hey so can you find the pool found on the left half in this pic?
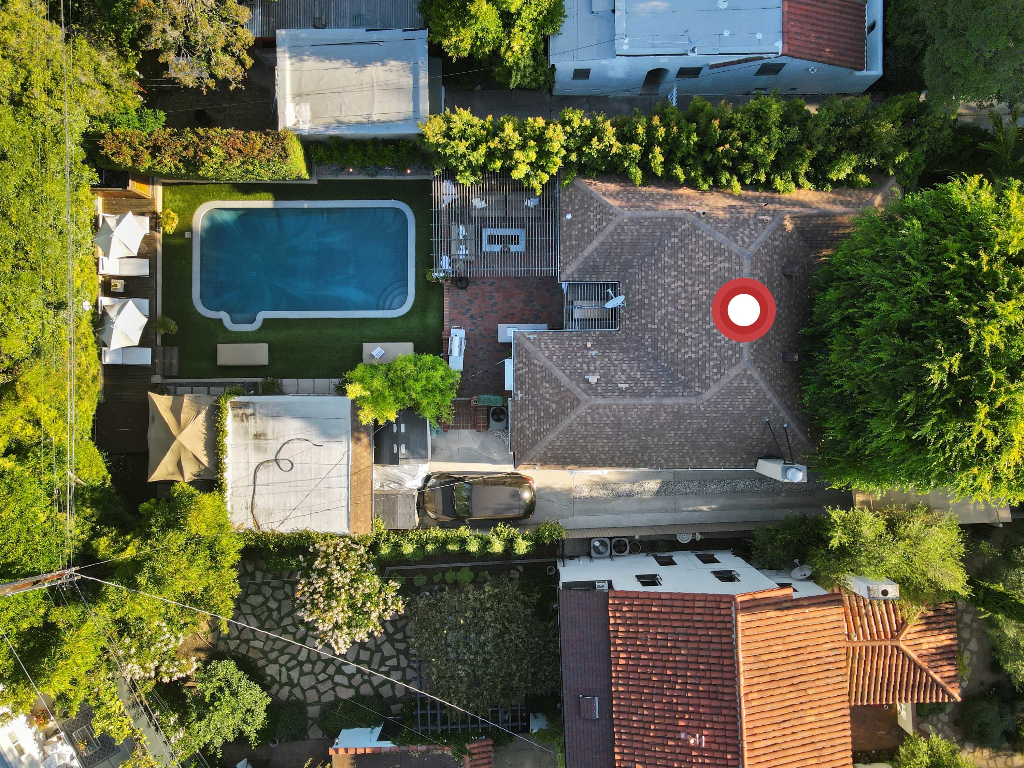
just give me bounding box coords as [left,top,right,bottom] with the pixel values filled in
[192,200,414,332]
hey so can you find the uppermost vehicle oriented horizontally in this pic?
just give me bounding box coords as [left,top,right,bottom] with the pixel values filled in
[423,475,535,529]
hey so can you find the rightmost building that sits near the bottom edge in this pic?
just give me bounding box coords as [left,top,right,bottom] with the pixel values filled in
[557,545,966,768]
